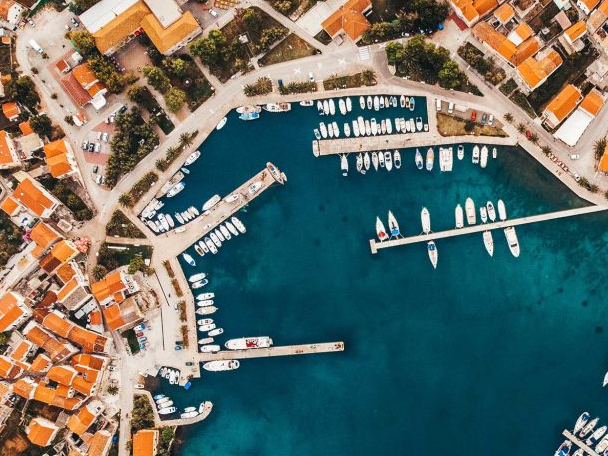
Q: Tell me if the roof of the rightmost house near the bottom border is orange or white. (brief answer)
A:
orange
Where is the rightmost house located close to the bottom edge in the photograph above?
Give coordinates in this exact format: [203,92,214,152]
[133,430,159,456]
